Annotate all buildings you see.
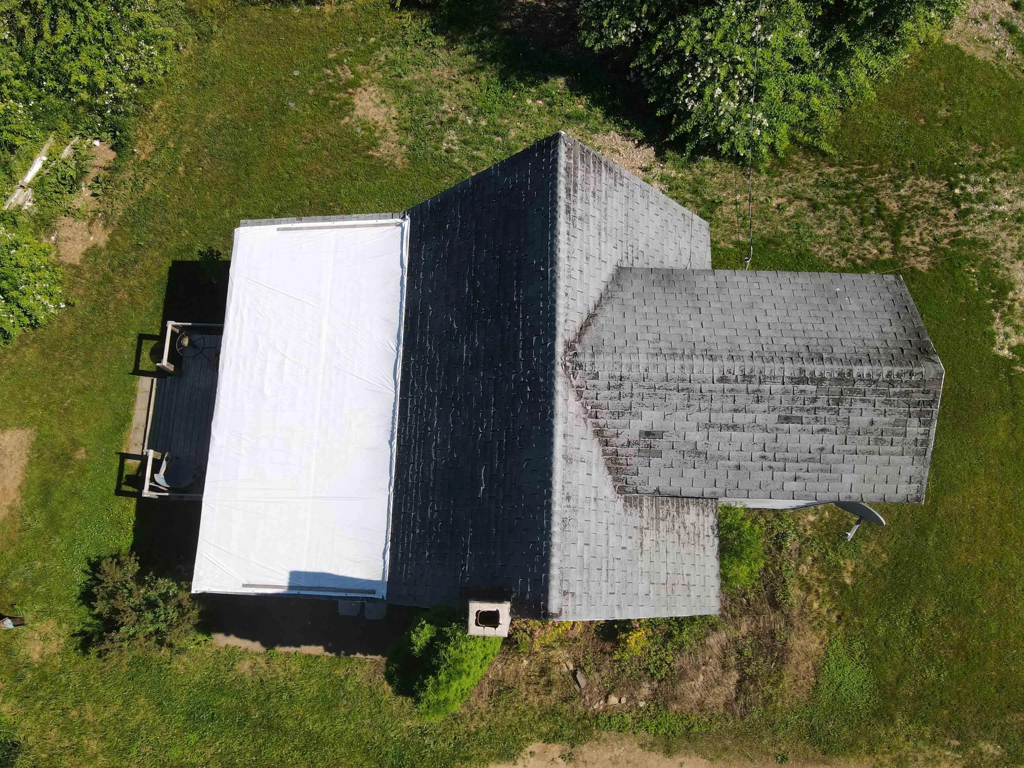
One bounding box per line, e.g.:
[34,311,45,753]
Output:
[201,131,946,636]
